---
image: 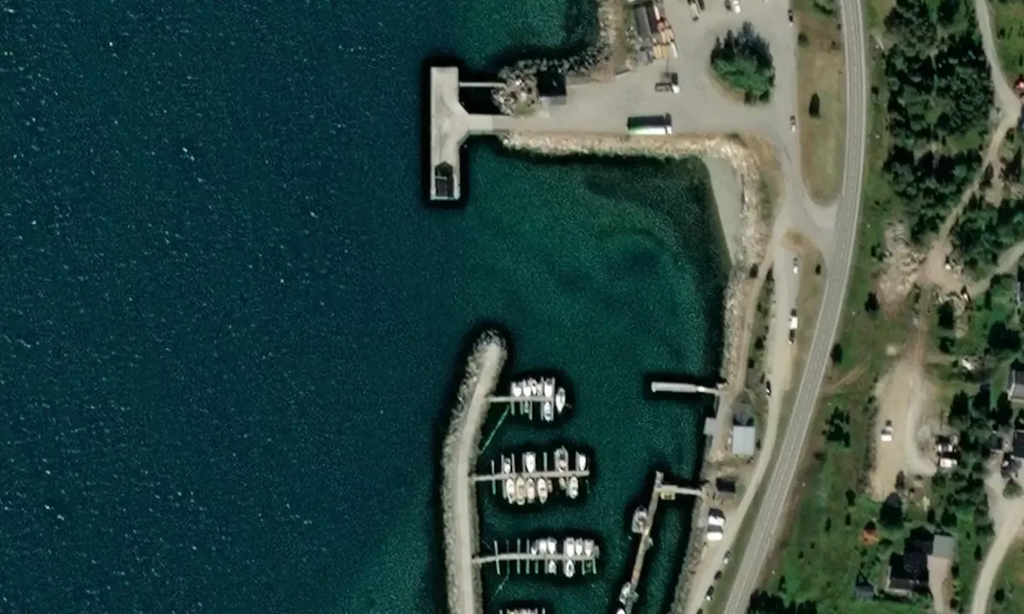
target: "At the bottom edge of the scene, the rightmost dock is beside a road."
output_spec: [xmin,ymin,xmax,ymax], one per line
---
[625,471,703,614]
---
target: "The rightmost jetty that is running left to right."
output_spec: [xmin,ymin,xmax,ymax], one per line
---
[651,381,719,394]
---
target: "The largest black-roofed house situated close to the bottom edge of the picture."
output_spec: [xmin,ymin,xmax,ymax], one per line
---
[885,538,933,596]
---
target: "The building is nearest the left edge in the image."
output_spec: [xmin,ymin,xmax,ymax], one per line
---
[537,78,566,105]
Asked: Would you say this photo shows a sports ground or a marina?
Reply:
marina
